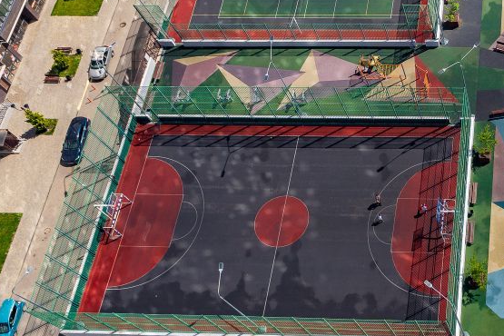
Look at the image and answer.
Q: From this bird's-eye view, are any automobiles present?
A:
Yes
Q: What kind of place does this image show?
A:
sports ground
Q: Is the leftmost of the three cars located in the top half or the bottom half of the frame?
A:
bottom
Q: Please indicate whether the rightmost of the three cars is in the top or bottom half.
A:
top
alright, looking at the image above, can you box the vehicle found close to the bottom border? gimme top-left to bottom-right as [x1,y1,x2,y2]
[0,300,28,336]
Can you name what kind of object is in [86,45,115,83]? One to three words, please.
car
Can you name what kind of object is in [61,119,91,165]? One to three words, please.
car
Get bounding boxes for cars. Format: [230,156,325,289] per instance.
[0,300,28,336]
[86,45,115,83]
[61,119,91,165]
